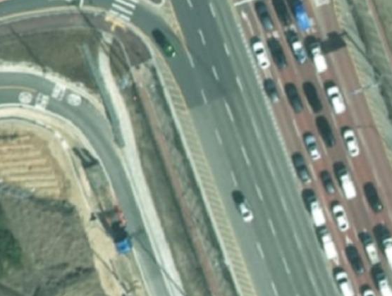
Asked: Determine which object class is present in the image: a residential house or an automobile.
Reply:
automobile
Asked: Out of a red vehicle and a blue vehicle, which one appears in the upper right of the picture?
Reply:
blue vehicle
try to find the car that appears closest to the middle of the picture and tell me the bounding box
[238,200,254,223]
